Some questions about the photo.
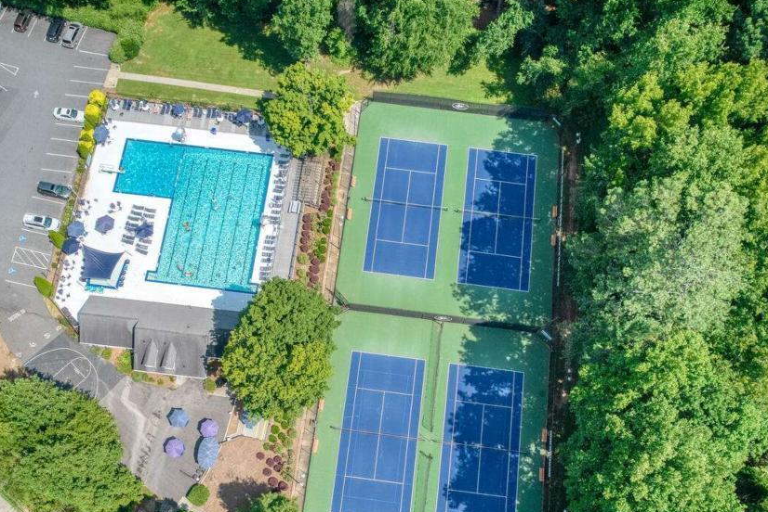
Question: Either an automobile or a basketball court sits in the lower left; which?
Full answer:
What appears in the lower left is a basketball court.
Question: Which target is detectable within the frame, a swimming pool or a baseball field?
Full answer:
The one in the frame is a swimming pool.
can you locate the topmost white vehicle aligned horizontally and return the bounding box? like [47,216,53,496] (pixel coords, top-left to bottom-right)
[53,108,85,123]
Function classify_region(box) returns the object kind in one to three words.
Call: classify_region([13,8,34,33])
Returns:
car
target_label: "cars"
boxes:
[38,182,71,199]
[13,8,34,33]
[53,108,85,123]
[62,22,82,47]
[25,214,58,231]
[46,17,66,42]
